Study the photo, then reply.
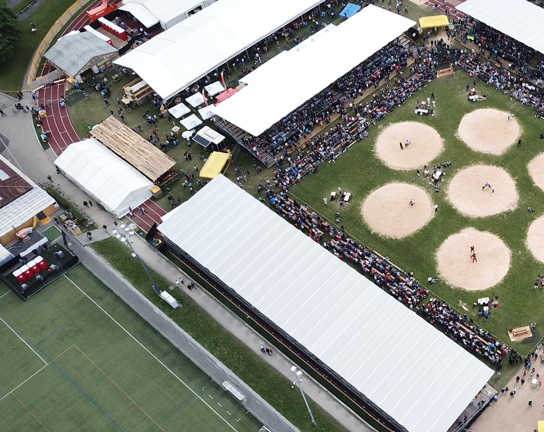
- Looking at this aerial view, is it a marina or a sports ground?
sports ground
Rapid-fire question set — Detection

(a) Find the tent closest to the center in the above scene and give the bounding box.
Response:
[200,150,233,184]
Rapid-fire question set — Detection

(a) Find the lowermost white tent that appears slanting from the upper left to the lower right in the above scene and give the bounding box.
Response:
[53,138,155,222]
